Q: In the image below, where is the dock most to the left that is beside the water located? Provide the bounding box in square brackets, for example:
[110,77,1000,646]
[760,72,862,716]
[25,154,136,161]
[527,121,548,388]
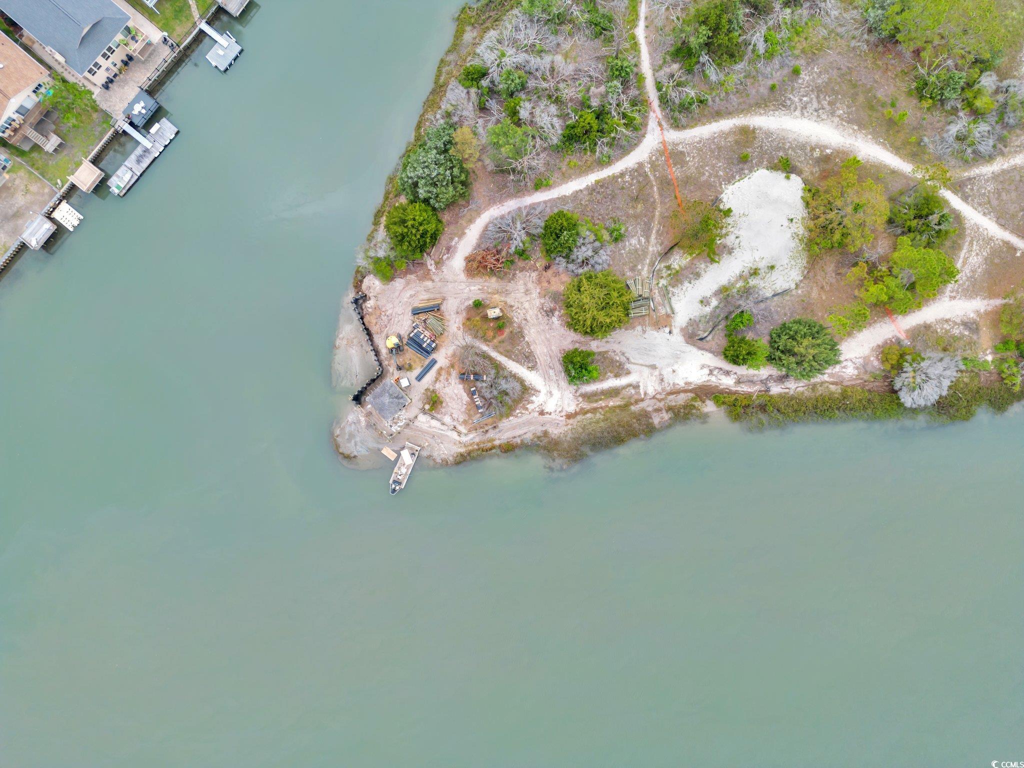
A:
[16,215,64,250]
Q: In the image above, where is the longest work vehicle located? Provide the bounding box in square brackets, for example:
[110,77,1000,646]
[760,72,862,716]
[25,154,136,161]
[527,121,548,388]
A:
[385,330,405,371]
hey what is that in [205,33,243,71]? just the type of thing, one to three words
pier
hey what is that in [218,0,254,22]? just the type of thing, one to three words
pier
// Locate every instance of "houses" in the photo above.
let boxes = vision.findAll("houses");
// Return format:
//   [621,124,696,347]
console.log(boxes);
[0,32,62,144]
[0,0,136,87]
